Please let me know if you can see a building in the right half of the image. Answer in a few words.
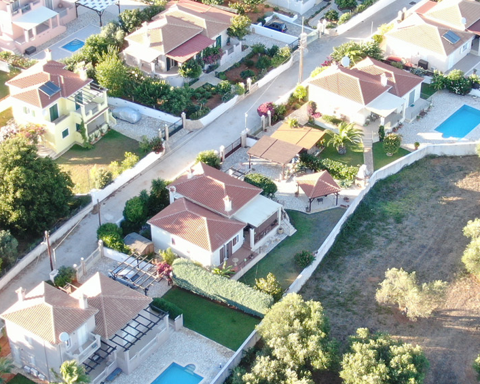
Yes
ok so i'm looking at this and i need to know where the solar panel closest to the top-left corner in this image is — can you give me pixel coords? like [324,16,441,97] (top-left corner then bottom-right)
[36,79,59,95]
